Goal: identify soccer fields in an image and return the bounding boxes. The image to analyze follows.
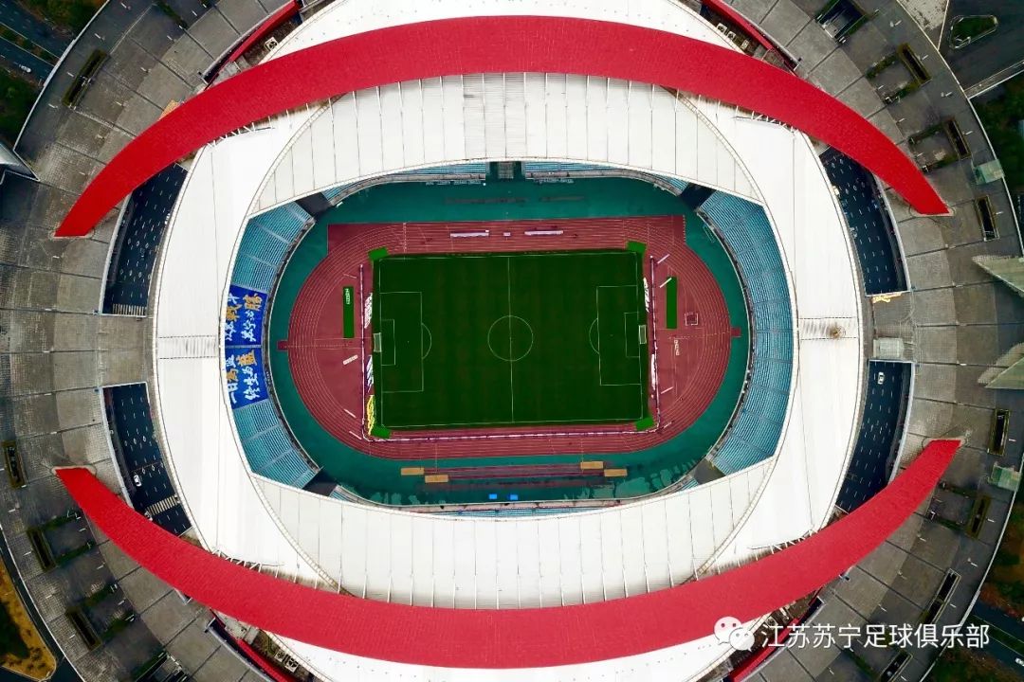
[373,248,651,430]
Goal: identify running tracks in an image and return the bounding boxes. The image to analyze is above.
[278,215,740,464]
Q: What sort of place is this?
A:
sports ground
